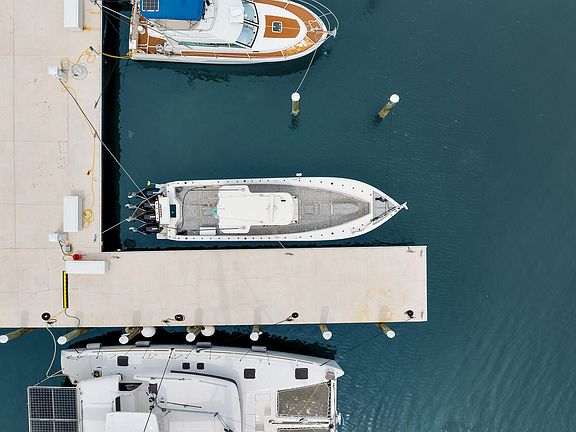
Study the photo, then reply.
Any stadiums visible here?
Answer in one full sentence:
No, there's no stadium here.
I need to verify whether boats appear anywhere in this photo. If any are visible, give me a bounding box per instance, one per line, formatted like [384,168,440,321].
[125,177,407,241]
[28,344,344,432]
[129,0,338,64]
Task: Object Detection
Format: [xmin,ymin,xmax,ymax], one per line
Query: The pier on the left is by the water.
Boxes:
[0,0,427,327]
